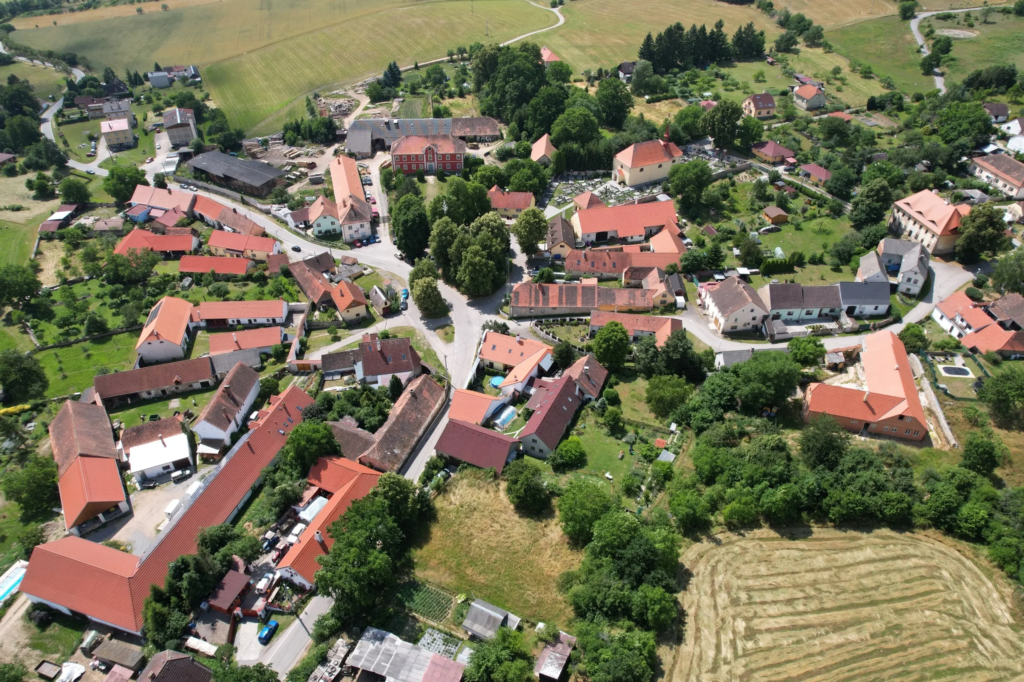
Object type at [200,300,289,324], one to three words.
house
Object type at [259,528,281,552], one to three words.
work vehicle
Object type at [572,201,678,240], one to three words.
barn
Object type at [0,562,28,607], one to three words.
swimming pool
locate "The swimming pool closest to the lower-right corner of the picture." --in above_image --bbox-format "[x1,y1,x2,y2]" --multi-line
[936,365,975,378]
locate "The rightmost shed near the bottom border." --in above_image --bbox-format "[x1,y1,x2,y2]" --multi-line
[541,631,575,682]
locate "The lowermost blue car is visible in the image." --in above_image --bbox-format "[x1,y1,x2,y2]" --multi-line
[255,619,281,646]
